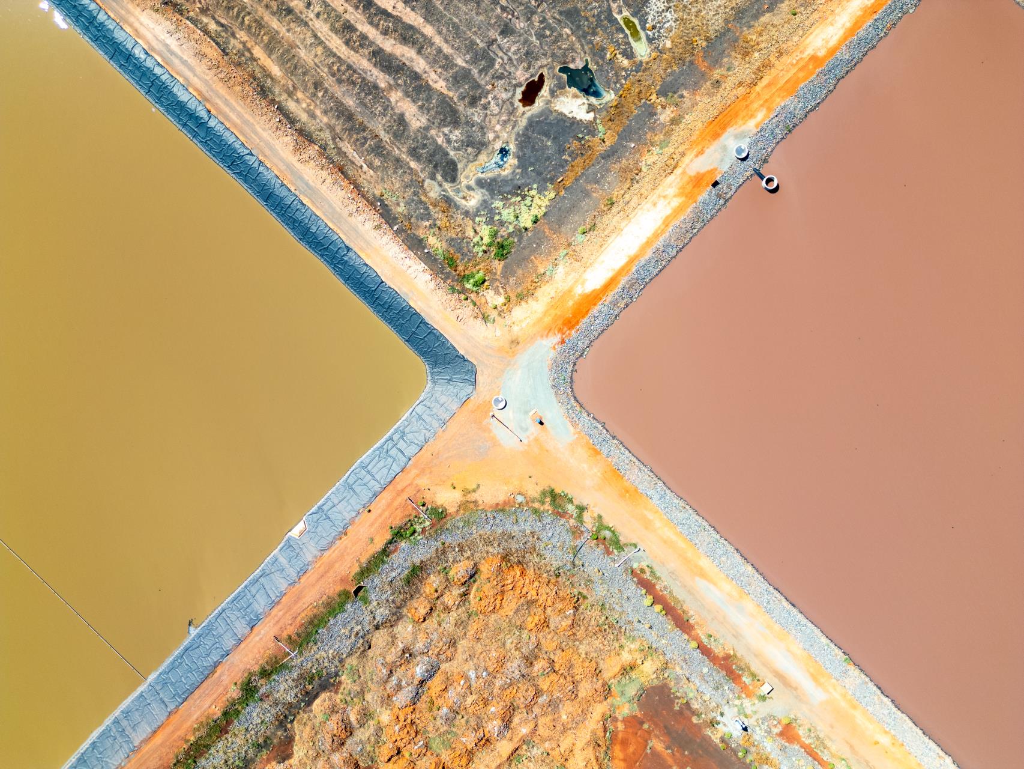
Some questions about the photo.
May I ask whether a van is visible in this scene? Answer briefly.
No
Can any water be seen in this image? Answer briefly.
Yes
